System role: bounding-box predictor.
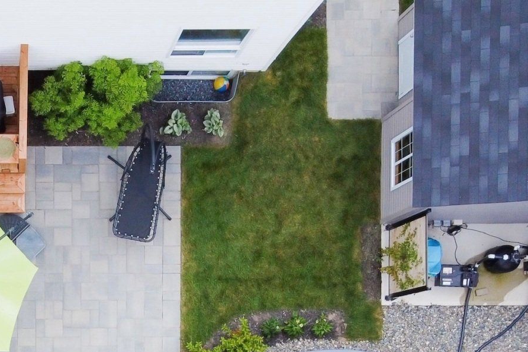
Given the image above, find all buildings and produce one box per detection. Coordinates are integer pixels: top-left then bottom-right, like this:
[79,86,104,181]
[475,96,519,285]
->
[0,0,329,82]
[383,0,528,223]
